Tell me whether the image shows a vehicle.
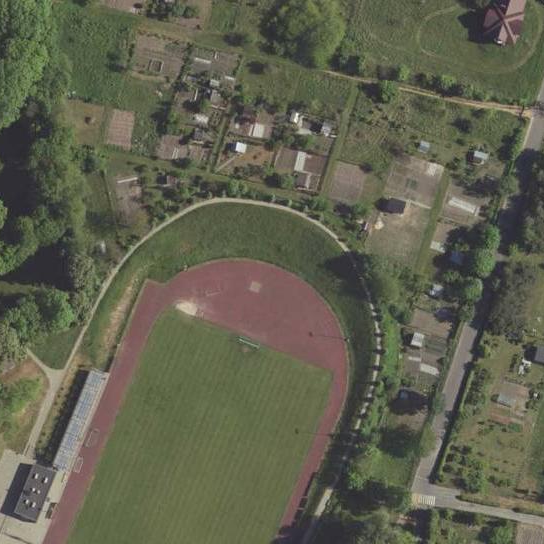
No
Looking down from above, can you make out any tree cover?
Yes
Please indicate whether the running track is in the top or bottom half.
bottom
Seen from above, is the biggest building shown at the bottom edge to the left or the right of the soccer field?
to the left of it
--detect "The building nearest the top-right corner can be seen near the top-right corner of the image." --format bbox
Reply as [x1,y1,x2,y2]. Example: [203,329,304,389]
[480,0,528,44]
